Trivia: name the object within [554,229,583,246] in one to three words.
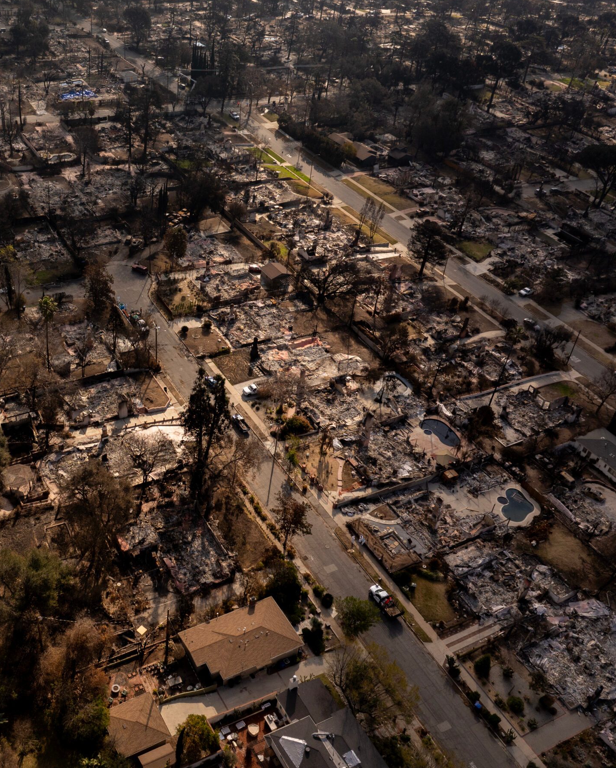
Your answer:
swimming pool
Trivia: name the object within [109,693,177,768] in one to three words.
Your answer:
building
